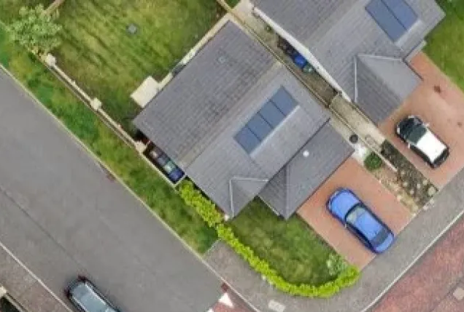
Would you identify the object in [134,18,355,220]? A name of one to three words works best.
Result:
house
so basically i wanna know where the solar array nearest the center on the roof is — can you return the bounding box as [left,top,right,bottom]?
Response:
[233,86,303,158]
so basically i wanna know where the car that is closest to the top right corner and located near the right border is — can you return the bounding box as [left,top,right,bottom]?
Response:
[393,111,455,172]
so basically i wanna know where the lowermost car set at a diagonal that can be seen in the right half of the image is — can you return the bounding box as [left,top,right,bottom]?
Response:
[327,184,396,257]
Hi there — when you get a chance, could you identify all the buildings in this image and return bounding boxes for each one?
[134,18,355,220]
[250,0,448,127]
